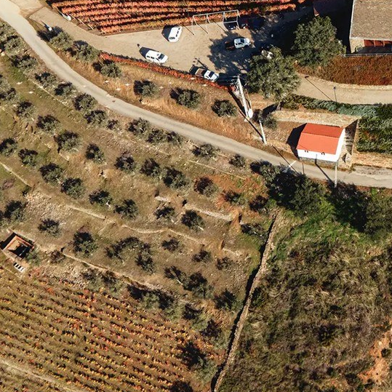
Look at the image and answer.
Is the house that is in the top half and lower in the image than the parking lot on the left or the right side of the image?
right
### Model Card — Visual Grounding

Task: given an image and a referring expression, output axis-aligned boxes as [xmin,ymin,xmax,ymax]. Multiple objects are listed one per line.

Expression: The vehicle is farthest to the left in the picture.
[142,47,167,64]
